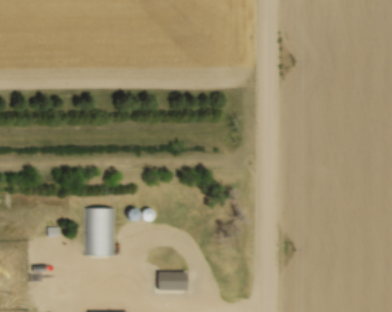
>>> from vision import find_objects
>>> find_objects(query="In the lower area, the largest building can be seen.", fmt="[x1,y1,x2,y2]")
[84,208,115,254]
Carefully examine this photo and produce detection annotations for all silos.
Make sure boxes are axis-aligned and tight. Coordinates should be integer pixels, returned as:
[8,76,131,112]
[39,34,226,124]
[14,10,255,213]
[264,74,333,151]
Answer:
[141,208,156,222]
[126,208,142,222]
